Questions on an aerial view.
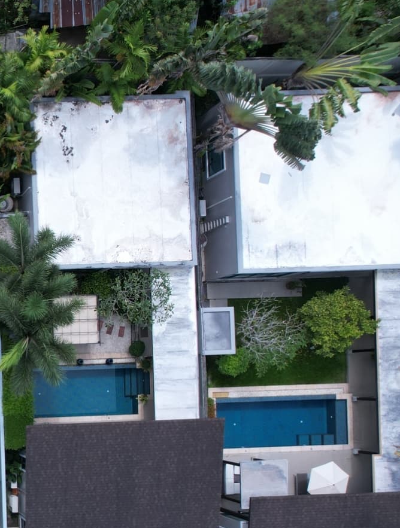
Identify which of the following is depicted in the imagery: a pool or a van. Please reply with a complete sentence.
It is a pool that can be seen here.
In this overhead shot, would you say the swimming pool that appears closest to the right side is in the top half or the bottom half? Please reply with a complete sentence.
You can find the swimming pool that appears closest to the right side in the bottom half.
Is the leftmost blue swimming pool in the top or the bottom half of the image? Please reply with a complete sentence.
The leftmost blue swimming pool is in the bottom half of the image.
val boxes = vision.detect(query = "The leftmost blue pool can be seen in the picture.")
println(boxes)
[34,364,140,418]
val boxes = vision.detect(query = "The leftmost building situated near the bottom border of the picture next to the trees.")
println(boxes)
[12,419,225,528]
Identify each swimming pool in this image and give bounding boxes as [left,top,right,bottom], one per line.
[212,390,353,453]
[34,364,140,418]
